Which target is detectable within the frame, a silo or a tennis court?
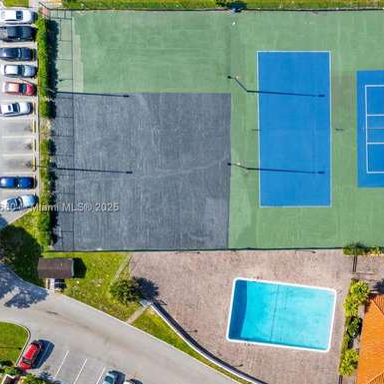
tennis court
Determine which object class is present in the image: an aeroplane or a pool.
pool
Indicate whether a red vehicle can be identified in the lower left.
Yes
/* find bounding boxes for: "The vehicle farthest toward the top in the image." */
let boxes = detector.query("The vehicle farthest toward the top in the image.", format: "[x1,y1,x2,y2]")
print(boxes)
[0,7,36,24]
